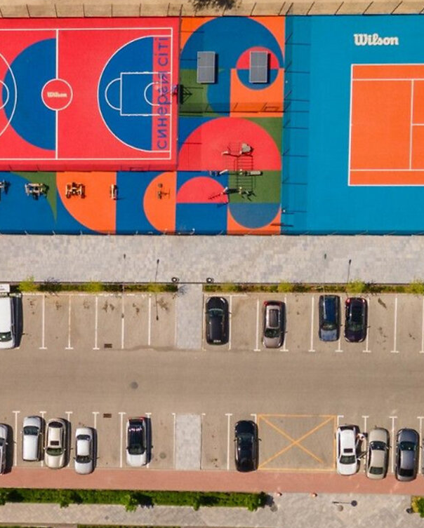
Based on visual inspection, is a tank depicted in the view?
No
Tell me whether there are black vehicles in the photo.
Yes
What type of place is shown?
sports ground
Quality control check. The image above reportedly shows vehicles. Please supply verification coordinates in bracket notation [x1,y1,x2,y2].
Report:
[203,296,230,346]
[317,295,341,342]
[44,420,69,468]
[335,426,366,474]
[0,283,18,347]
[72,427,95,473]
[234,421,259,471]
[0,424,9,473]
[365,429,390,479]
[394,429,420,480]
[343,297,368,343]
[262,299,286,348]
[20,416,43,461]
[125,418,148,466]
